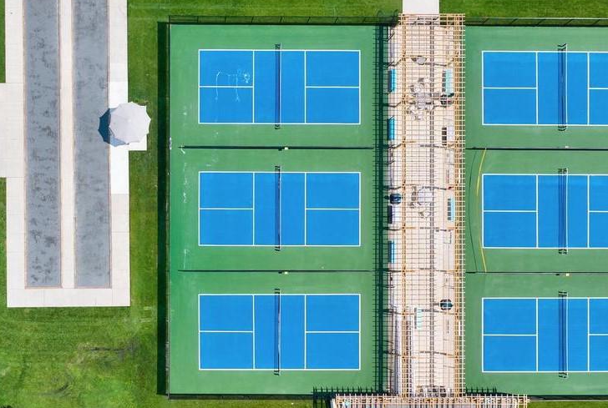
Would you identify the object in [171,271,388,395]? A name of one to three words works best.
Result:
sports court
